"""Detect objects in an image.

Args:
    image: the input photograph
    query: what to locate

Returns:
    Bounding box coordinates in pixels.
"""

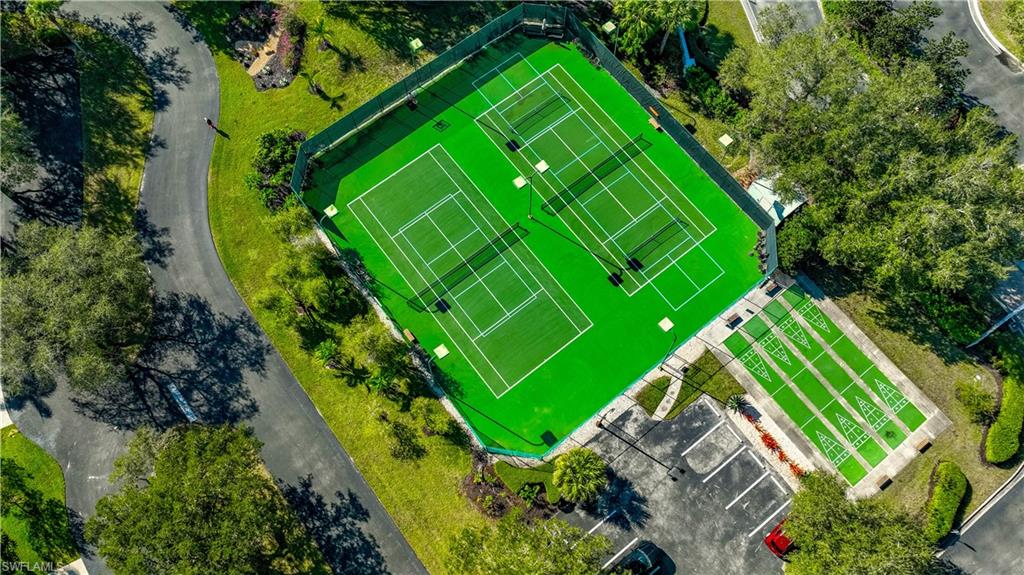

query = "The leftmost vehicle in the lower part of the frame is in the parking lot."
[619,549,666,575]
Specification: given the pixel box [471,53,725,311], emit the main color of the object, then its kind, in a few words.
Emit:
green tennis court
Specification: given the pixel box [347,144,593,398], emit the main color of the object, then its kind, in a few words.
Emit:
green tennis court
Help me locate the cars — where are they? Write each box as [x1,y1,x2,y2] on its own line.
[767,507,810,556]
[619,549,666,575]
